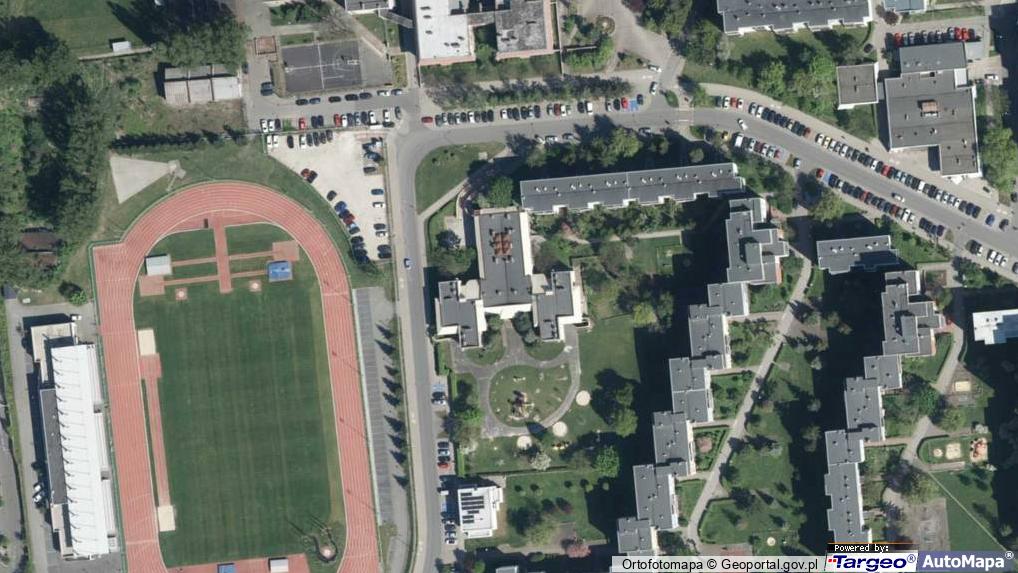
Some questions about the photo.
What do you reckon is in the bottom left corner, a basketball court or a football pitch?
football pitch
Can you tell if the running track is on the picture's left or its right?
left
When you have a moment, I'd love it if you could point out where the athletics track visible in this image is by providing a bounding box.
[93,181,371,573]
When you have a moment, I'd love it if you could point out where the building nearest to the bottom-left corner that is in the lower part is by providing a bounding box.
[30,322,81,558]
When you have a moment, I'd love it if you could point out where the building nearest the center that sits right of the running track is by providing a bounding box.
[437,204,580,348]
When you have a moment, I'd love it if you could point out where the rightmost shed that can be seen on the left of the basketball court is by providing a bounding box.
[164,65,247,105]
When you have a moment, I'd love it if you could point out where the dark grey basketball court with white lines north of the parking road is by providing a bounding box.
[281,41,362,90]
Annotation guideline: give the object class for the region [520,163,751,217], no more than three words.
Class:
building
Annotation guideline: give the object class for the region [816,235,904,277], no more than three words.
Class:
building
